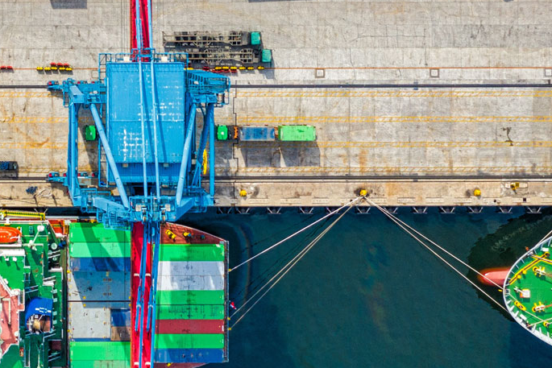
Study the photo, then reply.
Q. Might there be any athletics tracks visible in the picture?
No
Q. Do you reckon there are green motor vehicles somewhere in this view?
Yes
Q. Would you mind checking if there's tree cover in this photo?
No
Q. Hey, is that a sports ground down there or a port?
port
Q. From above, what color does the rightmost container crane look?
blue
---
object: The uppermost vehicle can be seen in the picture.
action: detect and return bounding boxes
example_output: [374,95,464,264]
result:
[166,31,264,48]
